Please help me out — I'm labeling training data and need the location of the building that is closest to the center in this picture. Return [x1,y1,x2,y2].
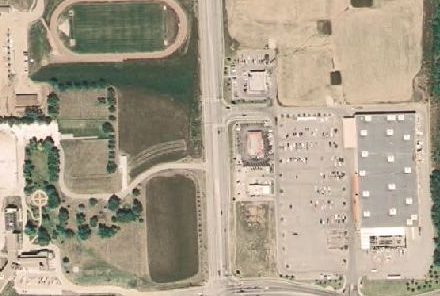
[247,131,264,157]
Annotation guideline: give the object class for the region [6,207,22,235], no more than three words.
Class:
building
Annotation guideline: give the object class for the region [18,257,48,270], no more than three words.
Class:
building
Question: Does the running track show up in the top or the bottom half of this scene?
top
